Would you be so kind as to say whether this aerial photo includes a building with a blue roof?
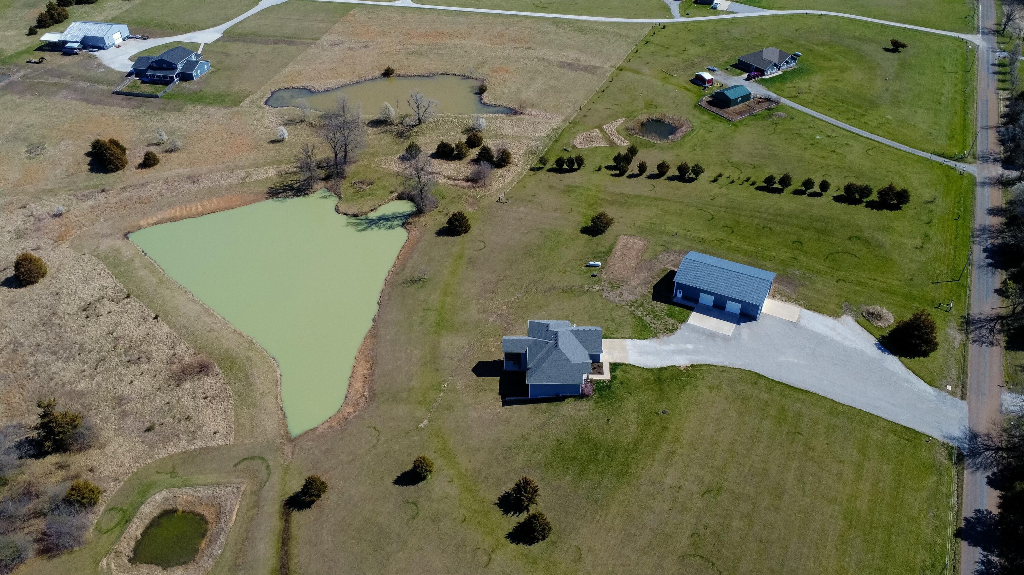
Yes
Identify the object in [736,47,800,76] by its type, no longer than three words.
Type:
house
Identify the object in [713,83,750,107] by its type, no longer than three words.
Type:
barn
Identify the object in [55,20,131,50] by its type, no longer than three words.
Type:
barn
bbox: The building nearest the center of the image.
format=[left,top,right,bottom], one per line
[502,317,604,397]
